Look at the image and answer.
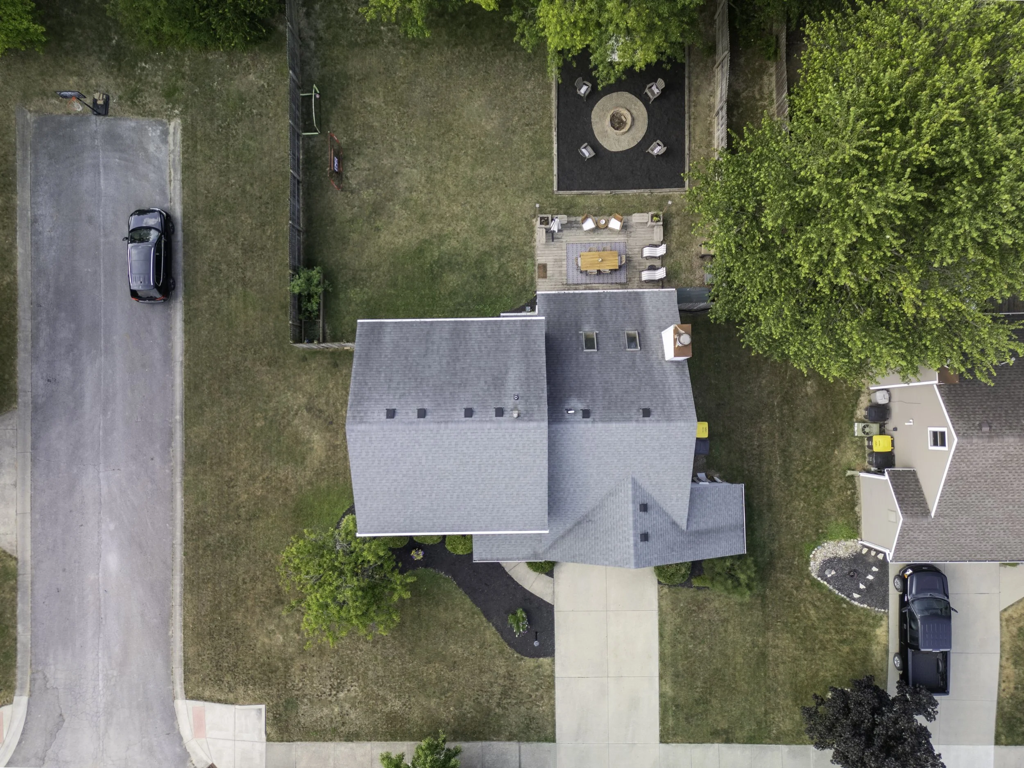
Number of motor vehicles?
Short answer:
2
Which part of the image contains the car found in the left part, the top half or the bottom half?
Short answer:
top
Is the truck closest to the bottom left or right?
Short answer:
right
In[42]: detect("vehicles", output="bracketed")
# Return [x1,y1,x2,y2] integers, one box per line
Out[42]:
[892,565,957,695]
[121,207,177,303]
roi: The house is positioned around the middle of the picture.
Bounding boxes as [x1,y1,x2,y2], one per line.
[346,287,748,568]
